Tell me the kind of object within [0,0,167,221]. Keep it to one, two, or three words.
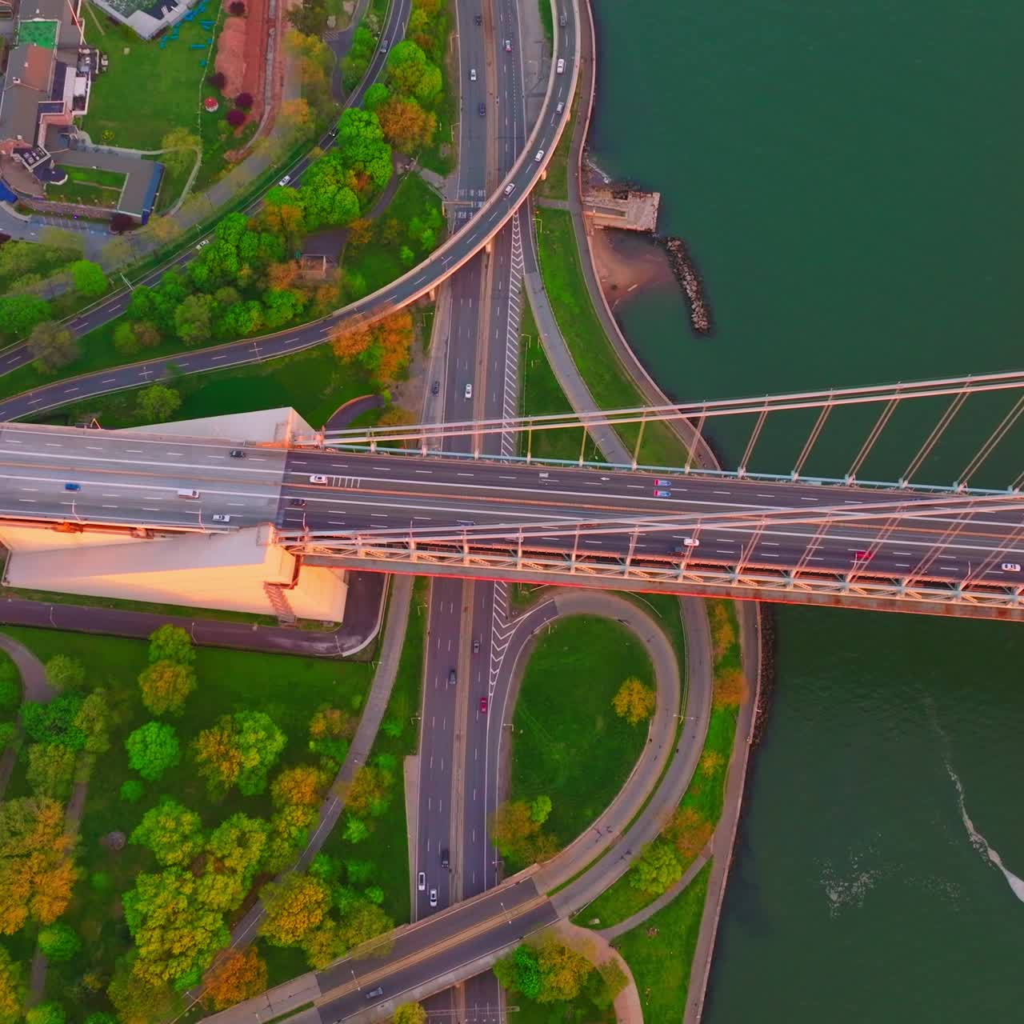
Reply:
building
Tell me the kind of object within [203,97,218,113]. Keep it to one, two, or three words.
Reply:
gazebo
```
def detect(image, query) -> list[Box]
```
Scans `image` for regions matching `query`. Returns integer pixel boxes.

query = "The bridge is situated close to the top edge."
[321,0,581,336]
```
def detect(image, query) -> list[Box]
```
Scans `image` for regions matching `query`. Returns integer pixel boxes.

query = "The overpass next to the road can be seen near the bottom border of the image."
[314,862,562,1024]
